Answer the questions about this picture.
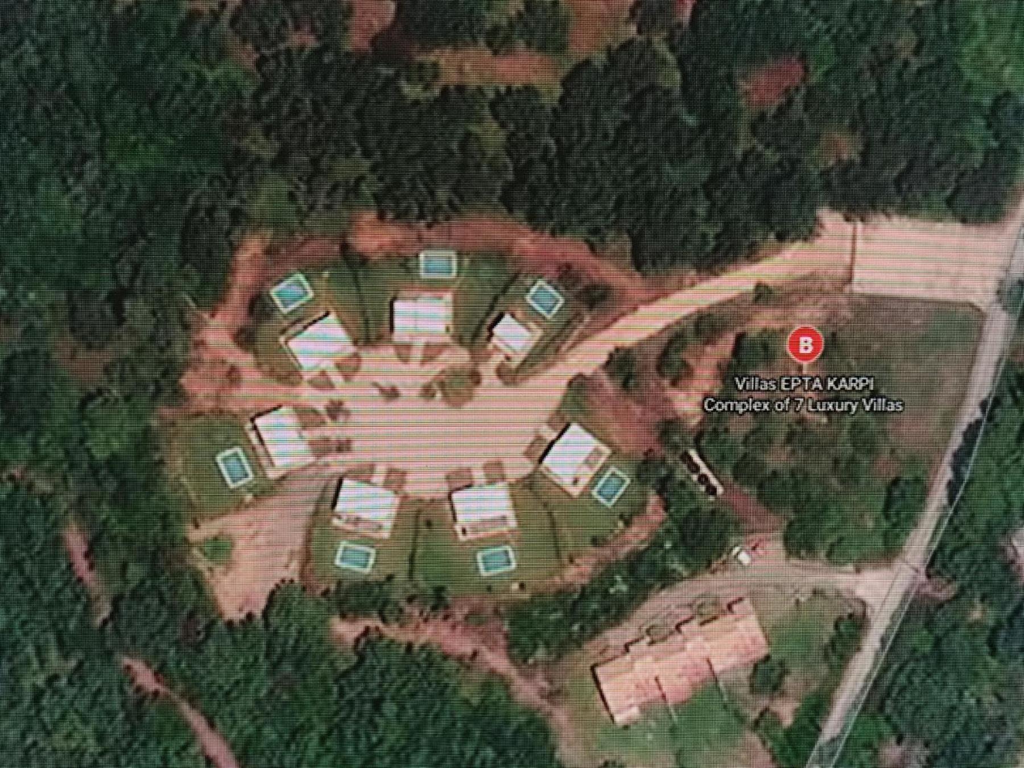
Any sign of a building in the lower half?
Yes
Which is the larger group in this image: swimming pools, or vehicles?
swimming pools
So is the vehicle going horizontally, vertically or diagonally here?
diagonally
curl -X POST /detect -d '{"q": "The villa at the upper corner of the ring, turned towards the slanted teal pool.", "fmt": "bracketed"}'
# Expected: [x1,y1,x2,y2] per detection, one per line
[283,305,356,376]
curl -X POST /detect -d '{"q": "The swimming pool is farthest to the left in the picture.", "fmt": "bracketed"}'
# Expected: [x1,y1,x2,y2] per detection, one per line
[215,446,253,489]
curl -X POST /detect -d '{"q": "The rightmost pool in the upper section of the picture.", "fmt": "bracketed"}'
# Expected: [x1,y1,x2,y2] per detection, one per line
[525,279,565,319]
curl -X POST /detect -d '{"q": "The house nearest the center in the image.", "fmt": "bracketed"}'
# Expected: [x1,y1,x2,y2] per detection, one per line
[488,302,544,360]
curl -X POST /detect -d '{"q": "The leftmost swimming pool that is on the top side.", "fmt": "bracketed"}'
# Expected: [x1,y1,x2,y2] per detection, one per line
[270,273,313,314]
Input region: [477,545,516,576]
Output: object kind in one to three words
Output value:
swimming pool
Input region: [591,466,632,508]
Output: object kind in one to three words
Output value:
swimming pool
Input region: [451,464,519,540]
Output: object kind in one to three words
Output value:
house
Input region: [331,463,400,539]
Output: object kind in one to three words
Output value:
house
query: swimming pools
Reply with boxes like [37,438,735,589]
[525,279,565,319]
[477,545,516,576]
[215,446,253,489]
[335,540,376,573]
[270,273,313,314]
[591,466,632,508]
[420,251,456,279]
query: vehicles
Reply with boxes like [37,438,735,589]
[730,544,753,568]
